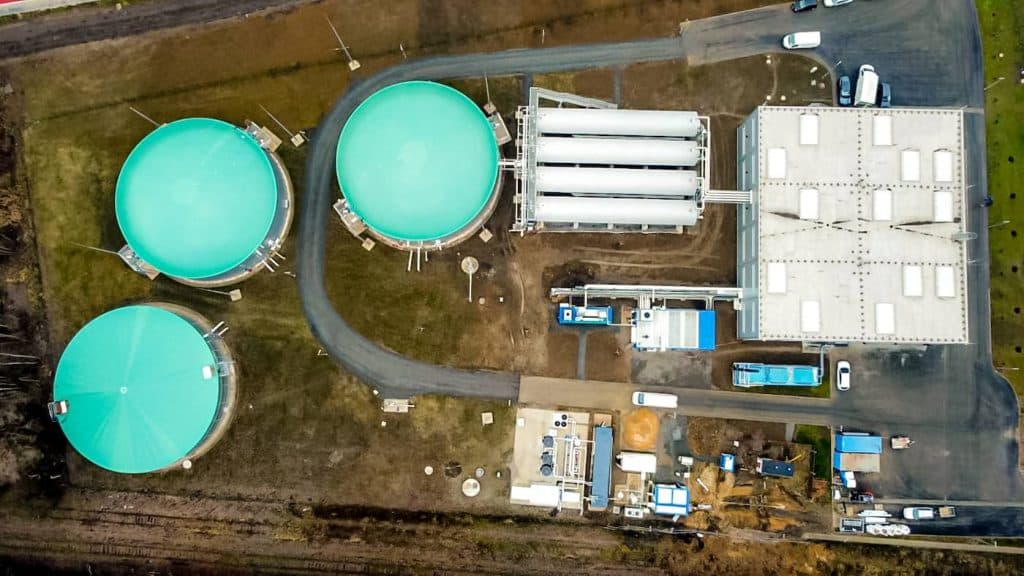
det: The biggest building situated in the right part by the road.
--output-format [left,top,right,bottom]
[737,107,980,343]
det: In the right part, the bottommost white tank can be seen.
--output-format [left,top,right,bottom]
[537,197,699,230]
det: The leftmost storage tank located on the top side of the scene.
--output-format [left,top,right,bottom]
[114,116,294,287]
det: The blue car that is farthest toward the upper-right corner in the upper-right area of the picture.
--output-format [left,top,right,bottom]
[876,82,892,107]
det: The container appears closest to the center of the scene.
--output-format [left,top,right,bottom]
[558,302,613,327]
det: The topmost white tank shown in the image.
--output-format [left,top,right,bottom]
[538,110,699,139]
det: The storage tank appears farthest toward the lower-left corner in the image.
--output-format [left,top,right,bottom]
[42,301,241,473]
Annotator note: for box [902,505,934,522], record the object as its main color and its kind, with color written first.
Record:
white car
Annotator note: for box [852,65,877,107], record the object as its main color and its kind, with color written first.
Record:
white truck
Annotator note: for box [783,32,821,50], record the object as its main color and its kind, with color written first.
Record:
white vehicle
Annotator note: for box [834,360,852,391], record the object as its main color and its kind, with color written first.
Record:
white car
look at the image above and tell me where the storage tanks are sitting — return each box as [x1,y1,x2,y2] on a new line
[330,81,514,273]
[114,116,294,287]
[538,110,699,139]
[537,197,699,230]
[537,168,699,197]
[538,139,699,168]
[42,301,241,473]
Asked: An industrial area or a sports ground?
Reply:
industrial area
